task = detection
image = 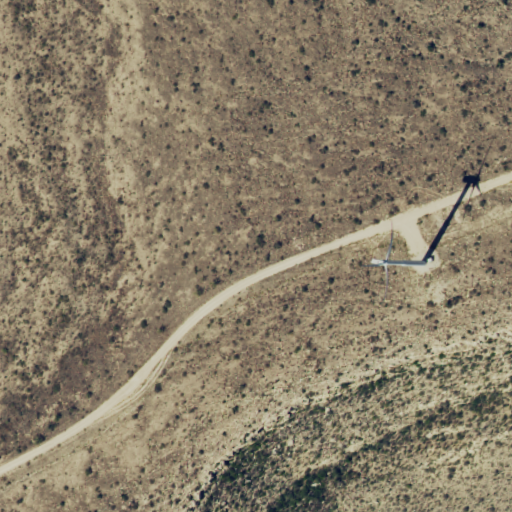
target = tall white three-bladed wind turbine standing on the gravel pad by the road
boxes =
[359,224,430,300]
